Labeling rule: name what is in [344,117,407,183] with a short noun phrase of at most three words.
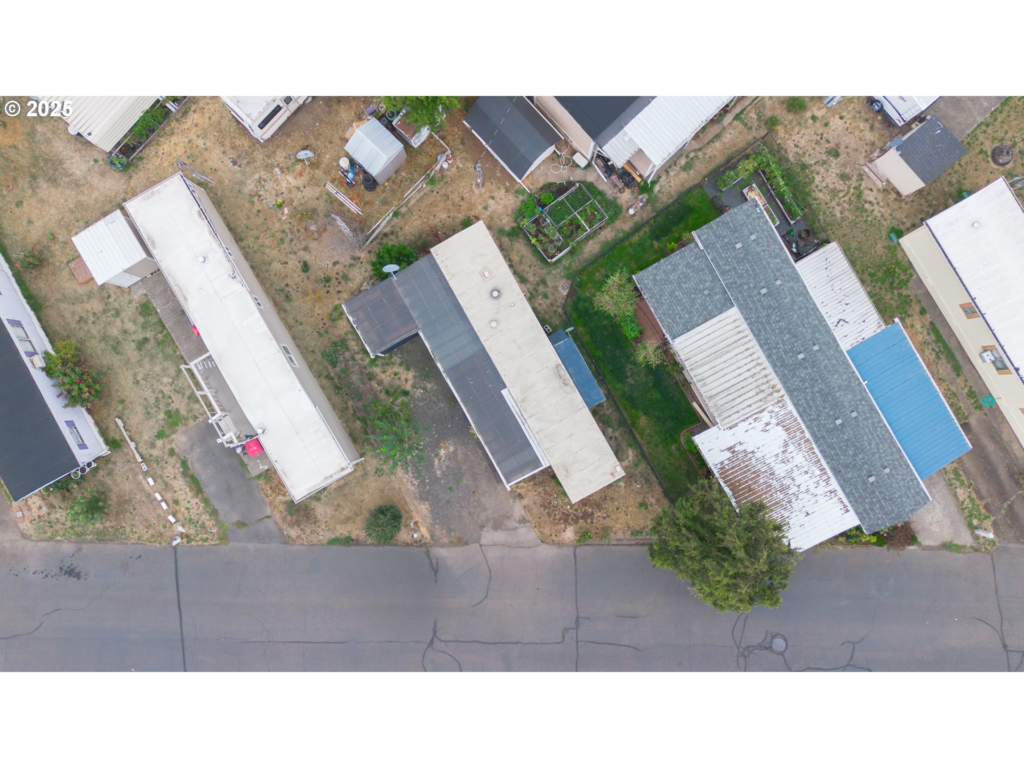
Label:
shed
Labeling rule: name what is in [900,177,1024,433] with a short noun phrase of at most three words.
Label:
house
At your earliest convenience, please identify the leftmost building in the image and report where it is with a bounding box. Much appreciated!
[0,256,110,503]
